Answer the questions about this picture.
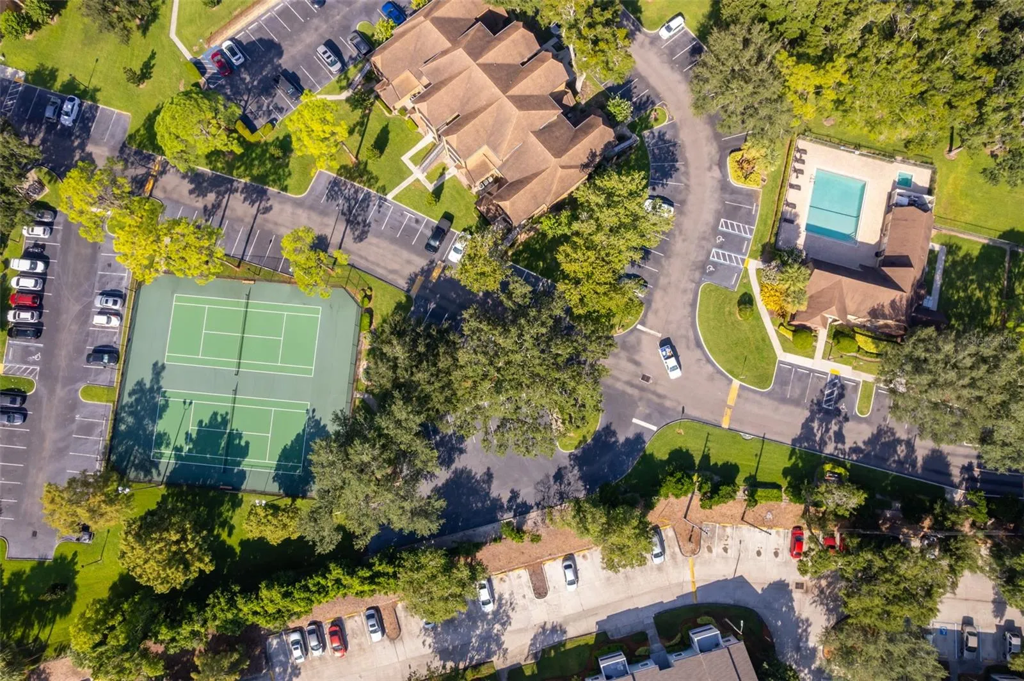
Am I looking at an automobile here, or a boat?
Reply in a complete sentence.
Looking from above, you can make out an automobile.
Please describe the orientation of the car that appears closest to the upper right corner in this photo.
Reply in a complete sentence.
Seen from above, the car that appears closest to the upper right corner lies on a diagonal.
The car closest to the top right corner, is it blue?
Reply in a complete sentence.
No, the car closest to the top right corner is actually white.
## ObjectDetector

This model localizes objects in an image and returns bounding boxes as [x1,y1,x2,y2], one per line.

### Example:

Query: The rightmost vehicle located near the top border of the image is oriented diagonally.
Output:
[658,14,686,40]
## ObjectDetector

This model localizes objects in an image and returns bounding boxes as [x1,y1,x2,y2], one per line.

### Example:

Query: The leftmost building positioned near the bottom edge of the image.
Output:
[598,614,757,681]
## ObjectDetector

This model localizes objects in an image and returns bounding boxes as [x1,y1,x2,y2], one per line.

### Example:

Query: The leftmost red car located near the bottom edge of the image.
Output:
[328,622,346,655]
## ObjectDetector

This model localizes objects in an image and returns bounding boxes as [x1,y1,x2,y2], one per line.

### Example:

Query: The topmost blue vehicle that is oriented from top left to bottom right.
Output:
[380,0,405,27]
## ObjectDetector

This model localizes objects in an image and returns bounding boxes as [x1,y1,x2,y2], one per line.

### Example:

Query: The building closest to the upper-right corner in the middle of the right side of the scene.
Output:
[790,207,944,339]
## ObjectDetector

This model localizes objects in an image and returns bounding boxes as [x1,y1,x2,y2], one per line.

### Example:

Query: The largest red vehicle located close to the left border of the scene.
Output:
[9,291,41,307]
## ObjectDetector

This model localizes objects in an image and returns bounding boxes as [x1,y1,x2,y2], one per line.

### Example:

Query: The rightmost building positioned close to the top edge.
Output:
[366,0,622,235]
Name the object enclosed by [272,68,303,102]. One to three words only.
truck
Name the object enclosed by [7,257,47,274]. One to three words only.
vehicle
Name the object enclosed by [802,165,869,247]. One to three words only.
swimming pool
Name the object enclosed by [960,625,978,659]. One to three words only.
car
